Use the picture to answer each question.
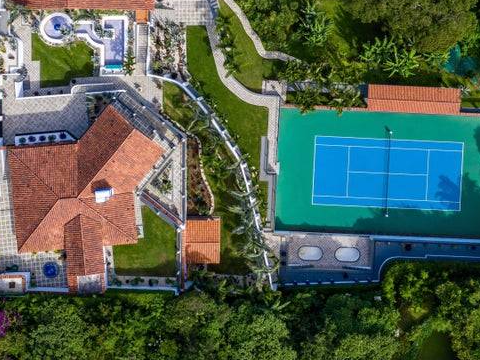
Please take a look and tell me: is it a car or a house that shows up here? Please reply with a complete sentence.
There is a house in the scene.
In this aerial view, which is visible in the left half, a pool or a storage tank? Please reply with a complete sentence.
It is a pool that can be seen in the left half.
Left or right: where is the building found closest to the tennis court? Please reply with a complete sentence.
The building found closest to the tennis court sits on the right side.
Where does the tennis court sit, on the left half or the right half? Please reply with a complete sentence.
It is on the right.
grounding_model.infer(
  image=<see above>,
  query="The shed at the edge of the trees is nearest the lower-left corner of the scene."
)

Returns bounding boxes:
[0,270,34,294]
